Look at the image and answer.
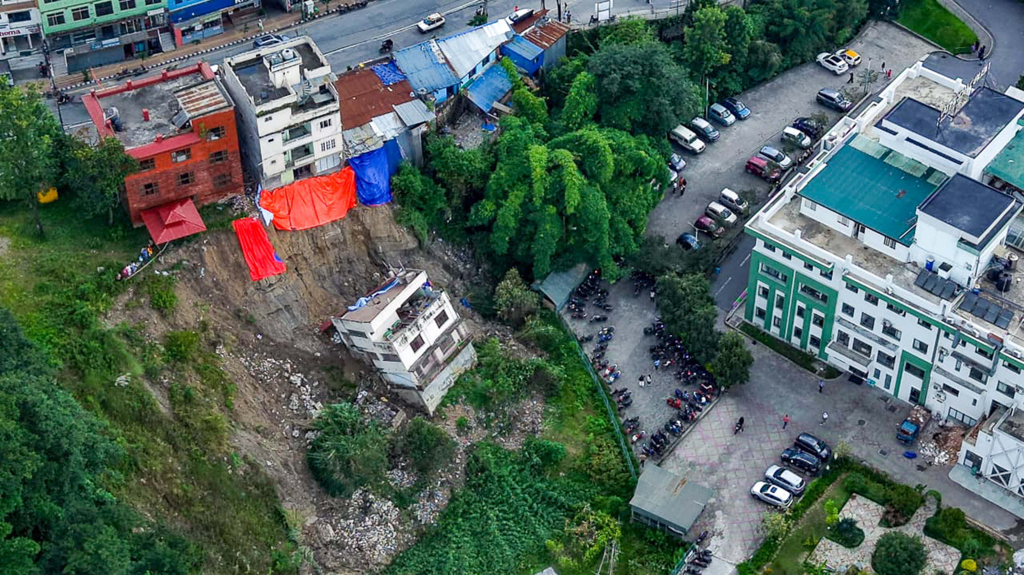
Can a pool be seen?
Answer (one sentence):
No, no pool can be seen from above.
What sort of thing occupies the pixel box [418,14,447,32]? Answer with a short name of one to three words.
car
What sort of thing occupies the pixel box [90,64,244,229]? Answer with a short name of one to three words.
house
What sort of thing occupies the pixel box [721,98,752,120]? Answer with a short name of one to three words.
car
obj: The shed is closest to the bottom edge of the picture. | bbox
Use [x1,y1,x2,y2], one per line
[630,461,712,547]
